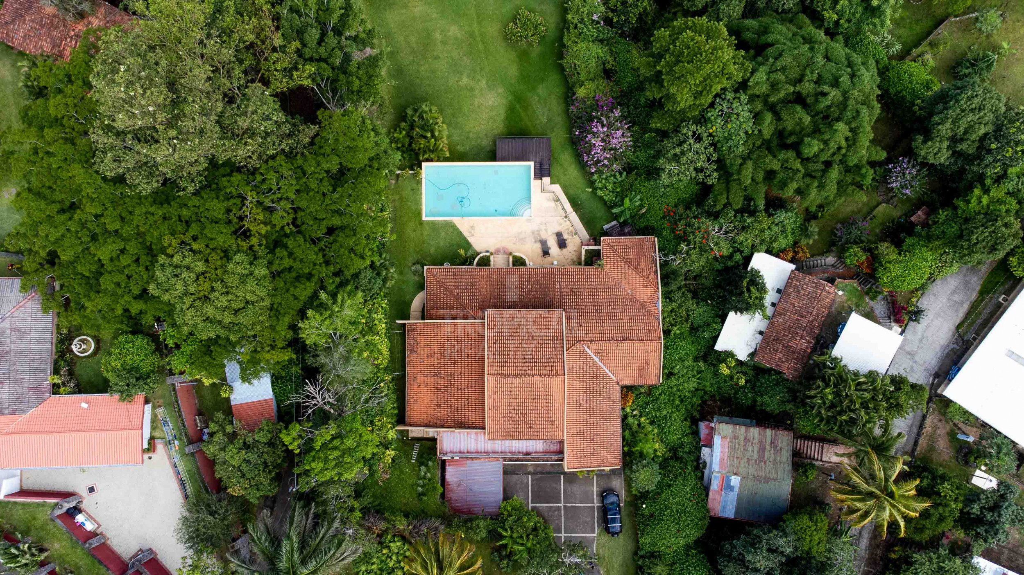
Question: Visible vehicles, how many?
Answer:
1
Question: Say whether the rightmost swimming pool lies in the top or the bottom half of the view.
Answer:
top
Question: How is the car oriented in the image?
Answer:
up and down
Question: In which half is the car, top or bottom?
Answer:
bottom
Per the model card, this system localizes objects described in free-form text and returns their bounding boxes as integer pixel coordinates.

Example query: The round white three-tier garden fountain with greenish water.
[70,334,98,357]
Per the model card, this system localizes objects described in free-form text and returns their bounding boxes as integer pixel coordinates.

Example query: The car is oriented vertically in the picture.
[599,488,623,537]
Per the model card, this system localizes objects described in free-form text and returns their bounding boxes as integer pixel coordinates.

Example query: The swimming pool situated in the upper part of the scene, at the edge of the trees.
[422,162,534,220]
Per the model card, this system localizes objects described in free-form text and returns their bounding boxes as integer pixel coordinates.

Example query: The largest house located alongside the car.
[395,237,664,474]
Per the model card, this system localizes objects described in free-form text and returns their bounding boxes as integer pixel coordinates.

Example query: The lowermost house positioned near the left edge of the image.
[0,392,149,470]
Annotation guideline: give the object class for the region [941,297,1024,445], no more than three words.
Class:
building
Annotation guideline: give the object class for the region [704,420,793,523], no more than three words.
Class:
shed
